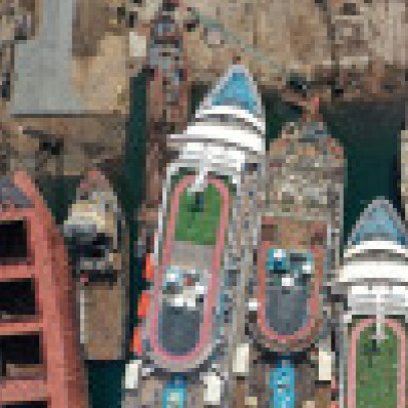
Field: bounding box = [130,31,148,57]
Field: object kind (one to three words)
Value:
shed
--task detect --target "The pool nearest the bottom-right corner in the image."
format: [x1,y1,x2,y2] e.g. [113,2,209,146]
[269,356,295,408]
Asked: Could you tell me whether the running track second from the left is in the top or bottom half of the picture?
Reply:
bottom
